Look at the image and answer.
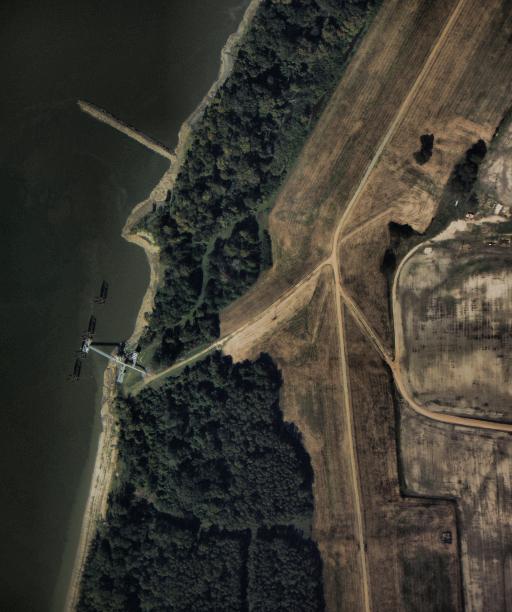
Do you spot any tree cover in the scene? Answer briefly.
Yes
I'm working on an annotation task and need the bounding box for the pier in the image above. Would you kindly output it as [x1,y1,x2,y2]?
[75,98,180,161]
